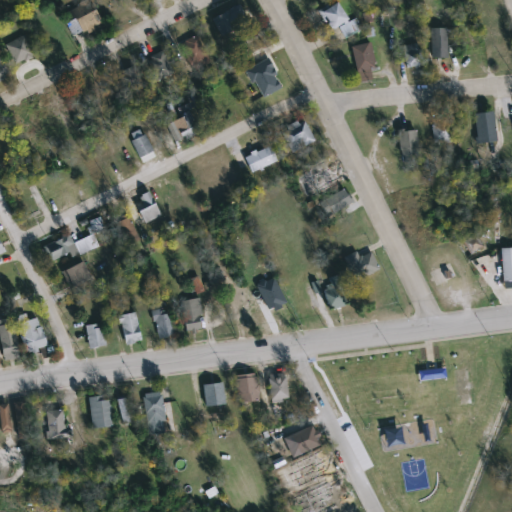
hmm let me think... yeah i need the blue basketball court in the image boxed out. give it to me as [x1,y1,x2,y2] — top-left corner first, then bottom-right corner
[402,459,429,492]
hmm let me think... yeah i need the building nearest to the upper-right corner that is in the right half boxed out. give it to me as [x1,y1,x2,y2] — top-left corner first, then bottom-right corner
[432,27,449,58]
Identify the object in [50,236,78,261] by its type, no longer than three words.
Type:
house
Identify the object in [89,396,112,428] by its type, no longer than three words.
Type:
house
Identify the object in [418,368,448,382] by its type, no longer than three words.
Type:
building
